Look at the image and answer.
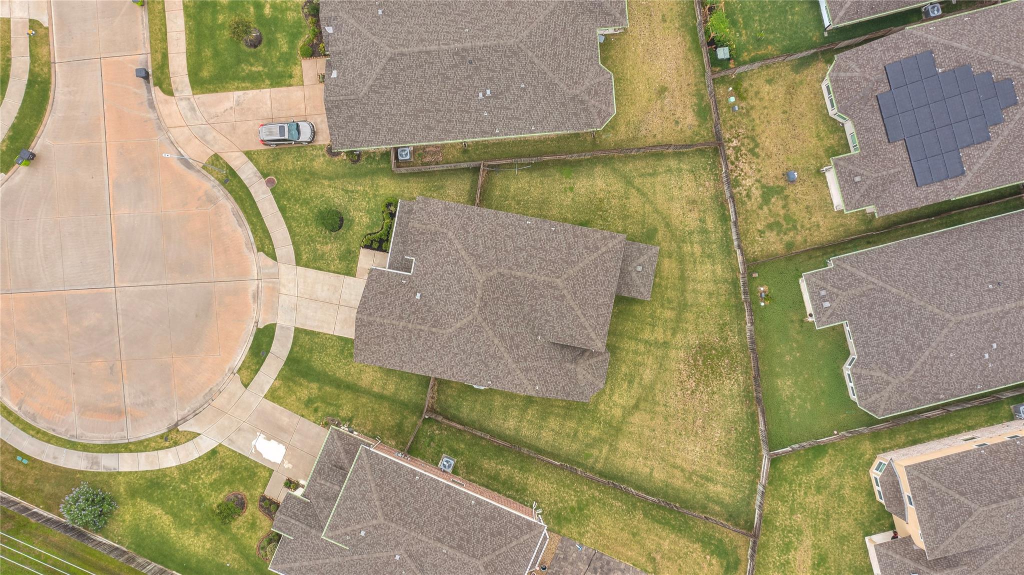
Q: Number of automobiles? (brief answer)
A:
1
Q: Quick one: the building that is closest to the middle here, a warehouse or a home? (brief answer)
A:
home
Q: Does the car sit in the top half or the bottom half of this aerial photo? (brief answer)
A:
top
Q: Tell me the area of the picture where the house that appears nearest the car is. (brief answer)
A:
top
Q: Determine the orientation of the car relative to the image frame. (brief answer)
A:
from left to right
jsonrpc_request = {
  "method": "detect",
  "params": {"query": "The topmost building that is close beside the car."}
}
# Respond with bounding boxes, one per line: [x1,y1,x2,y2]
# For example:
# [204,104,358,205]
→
[319,0,630,153]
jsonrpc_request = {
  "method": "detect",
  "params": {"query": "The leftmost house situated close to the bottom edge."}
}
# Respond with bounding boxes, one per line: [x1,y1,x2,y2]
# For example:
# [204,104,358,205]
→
[268,424,550,575]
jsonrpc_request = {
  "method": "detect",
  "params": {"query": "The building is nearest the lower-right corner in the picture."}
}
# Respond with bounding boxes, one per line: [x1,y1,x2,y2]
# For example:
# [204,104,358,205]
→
[865,418,1024,575]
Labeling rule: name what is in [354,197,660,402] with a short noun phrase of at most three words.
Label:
house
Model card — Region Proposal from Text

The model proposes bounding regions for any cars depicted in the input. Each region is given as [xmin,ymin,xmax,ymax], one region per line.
[256,117,318,147]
